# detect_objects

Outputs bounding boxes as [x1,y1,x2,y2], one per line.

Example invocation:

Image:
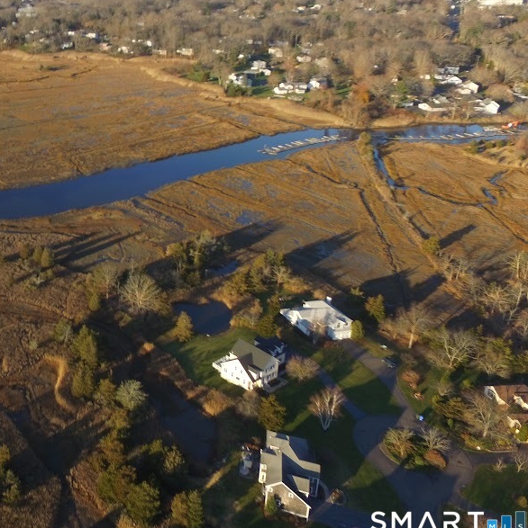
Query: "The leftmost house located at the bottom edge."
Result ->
[265,440,336,523]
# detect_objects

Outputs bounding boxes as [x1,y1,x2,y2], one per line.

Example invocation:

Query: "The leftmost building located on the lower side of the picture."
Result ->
[212,332,294,399]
